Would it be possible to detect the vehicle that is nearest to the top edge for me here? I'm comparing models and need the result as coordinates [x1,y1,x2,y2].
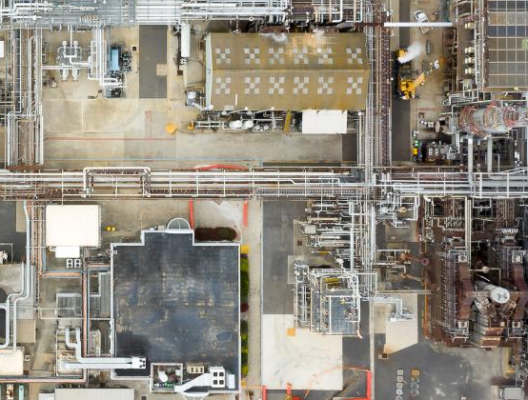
[415,4,431,21]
